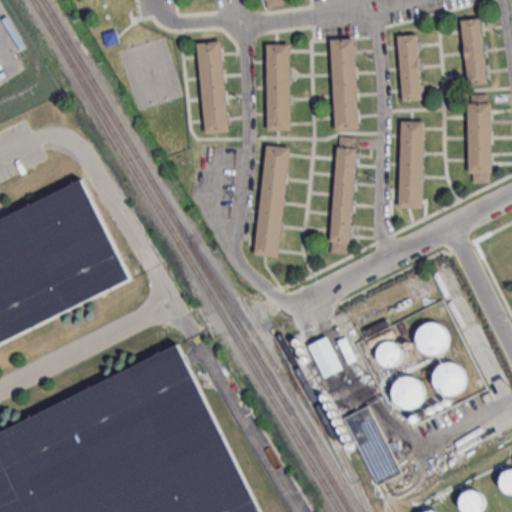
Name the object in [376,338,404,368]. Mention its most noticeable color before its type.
white storage tank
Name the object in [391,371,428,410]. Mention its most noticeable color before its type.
white storage tank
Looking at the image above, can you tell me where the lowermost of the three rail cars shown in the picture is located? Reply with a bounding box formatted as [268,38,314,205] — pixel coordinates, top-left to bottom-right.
[312,402,336,438]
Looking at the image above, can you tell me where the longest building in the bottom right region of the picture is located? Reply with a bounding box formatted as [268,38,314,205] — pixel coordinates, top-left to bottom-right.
[345,406,400,482]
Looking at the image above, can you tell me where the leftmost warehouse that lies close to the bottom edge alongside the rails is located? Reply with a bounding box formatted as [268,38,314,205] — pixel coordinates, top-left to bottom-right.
[0,342,264,512]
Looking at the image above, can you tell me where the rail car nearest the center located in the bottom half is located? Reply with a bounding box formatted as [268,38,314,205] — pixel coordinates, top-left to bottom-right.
[274,331,297,368]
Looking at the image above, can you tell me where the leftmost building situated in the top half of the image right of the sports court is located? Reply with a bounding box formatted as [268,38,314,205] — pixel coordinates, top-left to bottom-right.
[196,40,231,133]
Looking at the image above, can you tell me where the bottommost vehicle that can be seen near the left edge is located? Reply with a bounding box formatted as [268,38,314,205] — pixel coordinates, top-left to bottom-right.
[14,158,26,175]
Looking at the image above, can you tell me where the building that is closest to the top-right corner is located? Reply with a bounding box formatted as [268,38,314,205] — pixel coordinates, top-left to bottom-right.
[459,18,488,88]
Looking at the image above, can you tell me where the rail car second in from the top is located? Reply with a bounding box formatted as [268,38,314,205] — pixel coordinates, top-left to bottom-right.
[293,366,316,402]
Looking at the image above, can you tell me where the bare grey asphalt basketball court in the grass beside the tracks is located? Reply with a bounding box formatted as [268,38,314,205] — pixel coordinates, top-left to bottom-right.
[122,40,184,110]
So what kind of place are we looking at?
industrial area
